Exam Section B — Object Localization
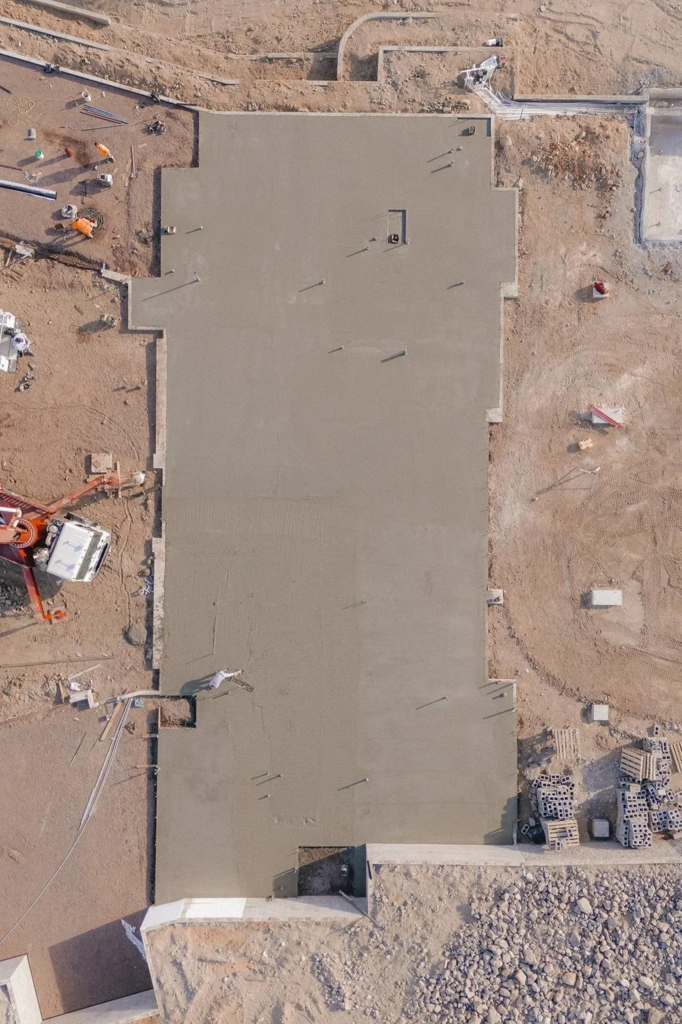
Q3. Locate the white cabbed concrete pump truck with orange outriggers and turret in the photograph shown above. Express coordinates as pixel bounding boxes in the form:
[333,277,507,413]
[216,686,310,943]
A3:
[0,473,119,620]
